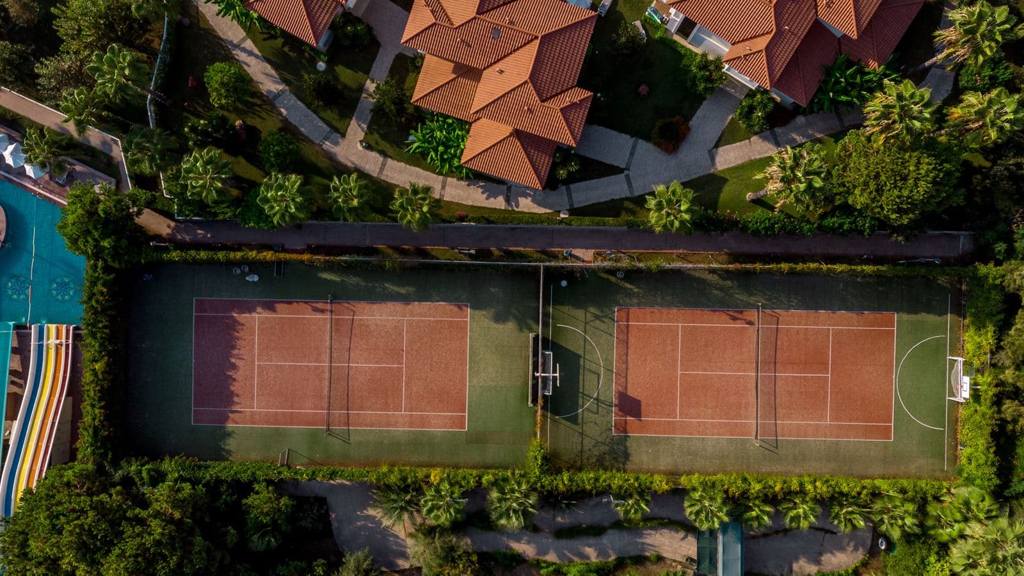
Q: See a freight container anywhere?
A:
No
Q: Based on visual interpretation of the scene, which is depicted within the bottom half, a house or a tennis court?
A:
tennis court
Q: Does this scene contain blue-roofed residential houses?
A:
No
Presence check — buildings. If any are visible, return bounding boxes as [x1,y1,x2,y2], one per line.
[400,0,599,190]
[245,0,367,60]
[653,0,928,107]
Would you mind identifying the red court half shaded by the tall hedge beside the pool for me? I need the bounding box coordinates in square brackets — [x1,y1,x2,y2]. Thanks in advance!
[139,263,540,471]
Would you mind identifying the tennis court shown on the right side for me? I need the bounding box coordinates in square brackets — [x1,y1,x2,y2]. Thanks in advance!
[541,269,962,480]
